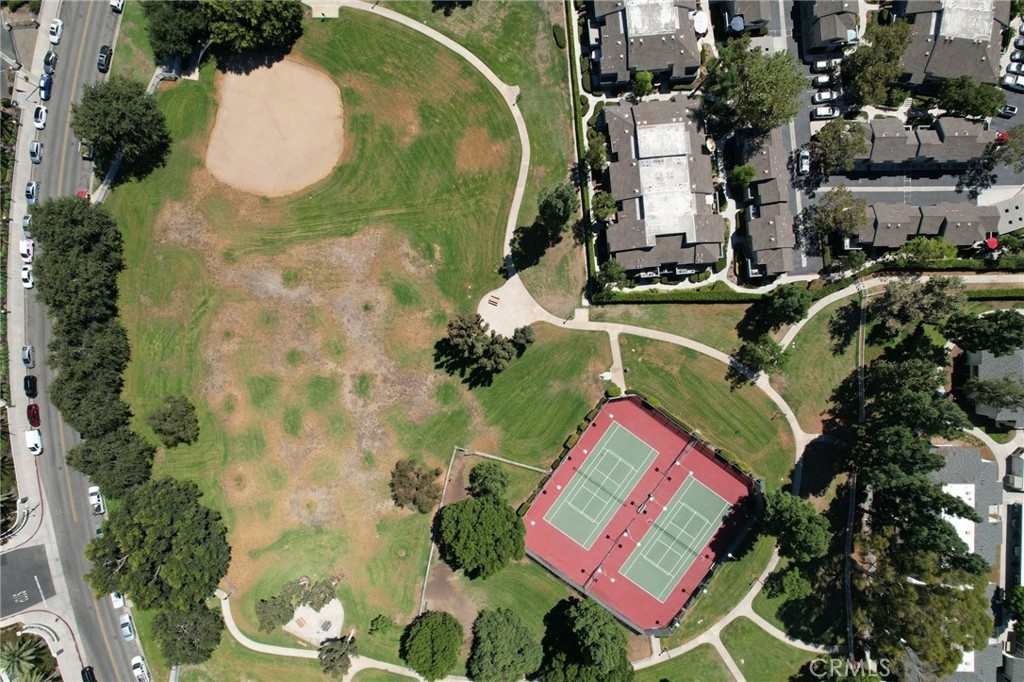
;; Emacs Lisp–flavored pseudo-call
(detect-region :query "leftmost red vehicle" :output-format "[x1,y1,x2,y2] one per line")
[28,402,42,428]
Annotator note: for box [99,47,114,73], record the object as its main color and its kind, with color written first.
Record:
black car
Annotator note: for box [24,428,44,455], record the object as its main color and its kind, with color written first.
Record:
white vehicle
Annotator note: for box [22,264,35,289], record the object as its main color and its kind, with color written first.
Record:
white vehicle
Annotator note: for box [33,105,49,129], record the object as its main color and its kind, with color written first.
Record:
white car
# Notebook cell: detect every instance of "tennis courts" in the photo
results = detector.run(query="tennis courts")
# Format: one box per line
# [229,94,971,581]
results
[524,394,692,587]
[585,438,751,628]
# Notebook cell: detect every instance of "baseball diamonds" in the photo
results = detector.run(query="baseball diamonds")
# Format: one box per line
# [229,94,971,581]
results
[205,57,345,199]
